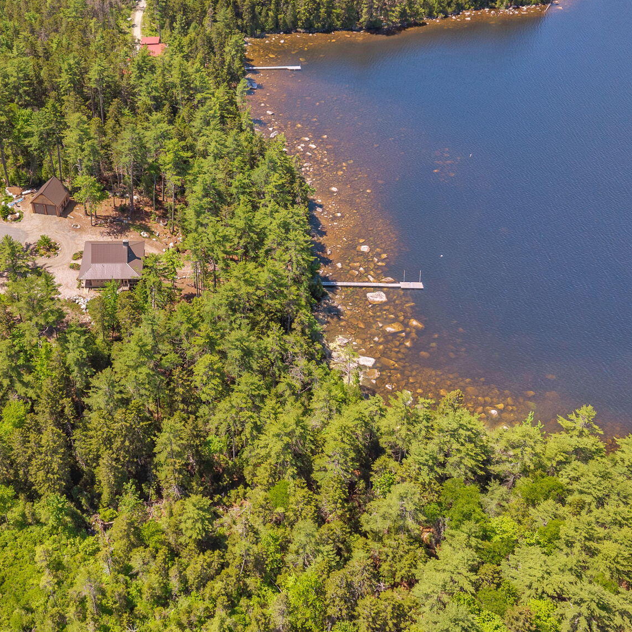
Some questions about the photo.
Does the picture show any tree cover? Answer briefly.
Yes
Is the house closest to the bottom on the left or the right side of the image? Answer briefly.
left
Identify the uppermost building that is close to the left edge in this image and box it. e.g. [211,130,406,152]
[29,174,75,217]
